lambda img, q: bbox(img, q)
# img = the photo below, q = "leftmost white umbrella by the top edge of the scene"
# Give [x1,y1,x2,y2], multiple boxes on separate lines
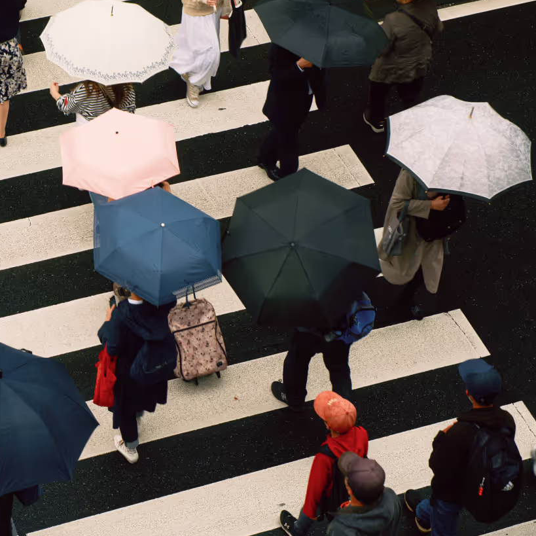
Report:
[40,0,177,85]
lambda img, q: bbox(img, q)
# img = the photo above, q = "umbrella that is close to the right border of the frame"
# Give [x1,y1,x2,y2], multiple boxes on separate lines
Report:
[387,93,535,213]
